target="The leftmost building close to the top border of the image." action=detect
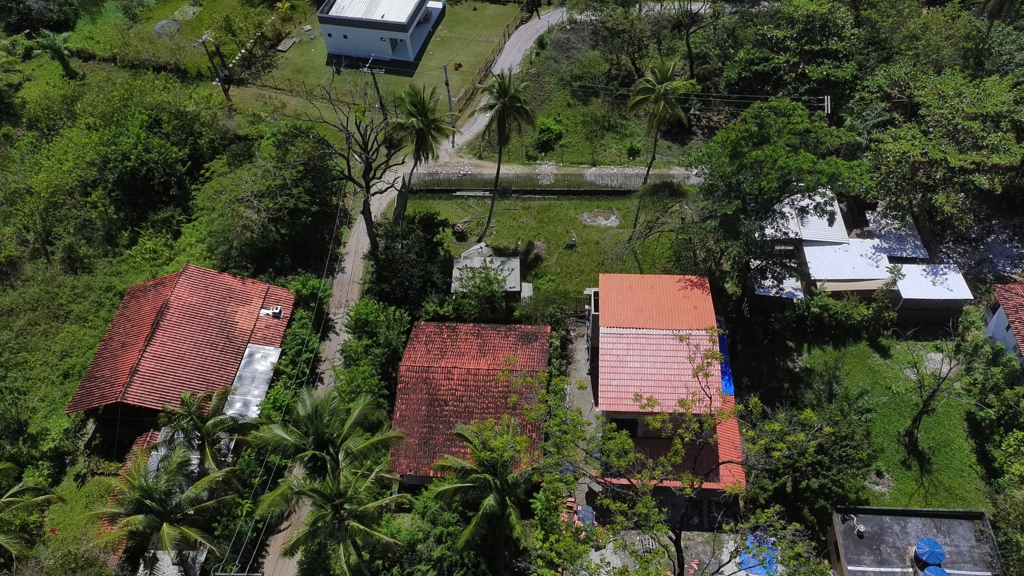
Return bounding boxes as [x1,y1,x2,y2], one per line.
[316,0,442,61]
